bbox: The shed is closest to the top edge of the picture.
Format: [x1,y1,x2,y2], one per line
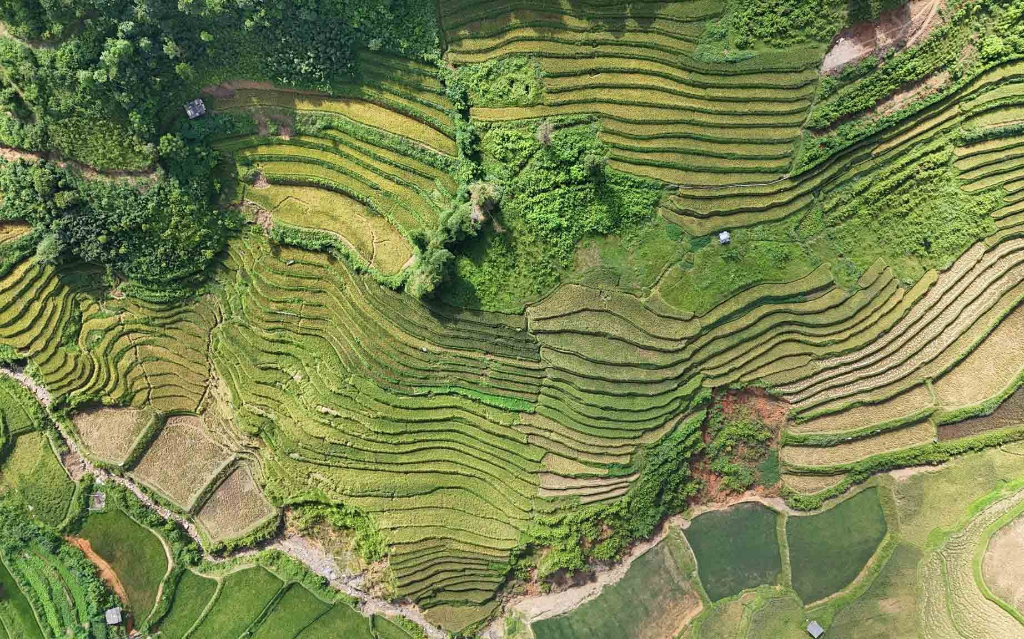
[183,97,209,120]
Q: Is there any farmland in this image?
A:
Yes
